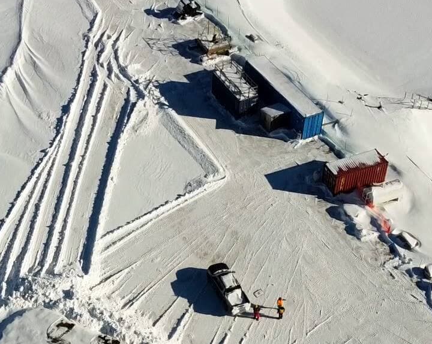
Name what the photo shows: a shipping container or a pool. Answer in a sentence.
Of the two, only a shipping container appears.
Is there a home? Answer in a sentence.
No, there isn't any home down there.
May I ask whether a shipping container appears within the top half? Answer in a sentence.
Yes, within the top half there is a shipping container.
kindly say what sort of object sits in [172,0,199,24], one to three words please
work vehicle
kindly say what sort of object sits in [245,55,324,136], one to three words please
shipping container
